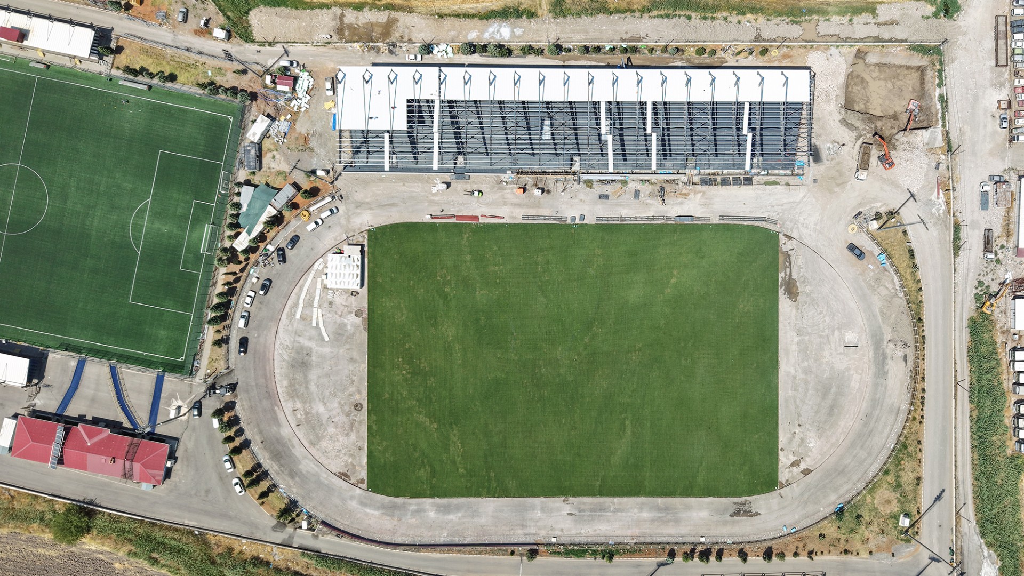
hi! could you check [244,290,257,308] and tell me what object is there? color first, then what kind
white vehicle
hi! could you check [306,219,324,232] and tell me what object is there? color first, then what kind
white vehicle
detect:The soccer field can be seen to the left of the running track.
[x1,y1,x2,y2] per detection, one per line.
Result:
[0,56,243,375]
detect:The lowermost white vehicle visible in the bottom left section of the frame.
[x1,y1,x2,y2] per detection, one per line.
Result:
[233,477,246,495]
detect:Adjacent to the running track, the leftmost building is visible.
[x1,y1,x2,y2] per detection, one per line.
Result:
[0,415,172,486]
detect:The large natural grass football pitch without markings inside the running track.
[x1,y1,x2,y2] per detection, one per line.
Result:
[366,224,780,497]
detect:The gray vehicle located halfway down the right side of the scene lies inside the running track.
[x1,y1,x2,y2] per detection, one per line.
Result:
[846,243,865,259]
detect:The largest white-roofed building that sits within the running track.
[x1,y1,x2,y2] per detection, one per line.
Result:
[328,254,363,289]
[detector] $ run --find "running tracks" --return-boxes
[226,192,916,545]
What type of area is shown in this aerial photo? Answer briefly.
sports ground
